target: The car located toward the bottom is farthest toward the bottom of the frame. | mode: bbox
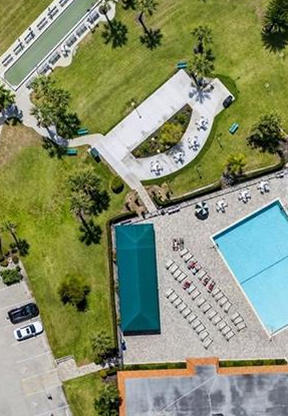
[13,322,44,340]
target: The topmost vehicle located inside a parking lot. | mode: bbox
[7,303,40,322]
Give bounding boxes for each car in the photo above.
[7,303,40,322]
[13,322,44,340]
